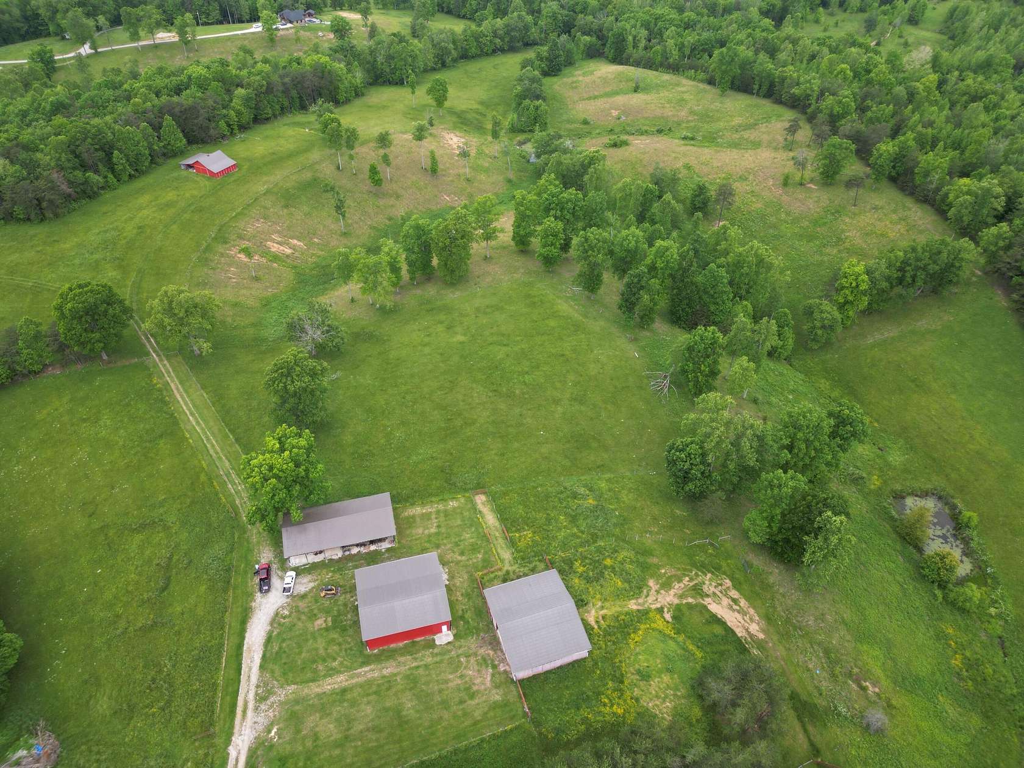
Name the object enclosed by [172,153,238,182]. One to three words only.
barn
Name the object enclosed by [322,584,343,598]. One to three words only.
work vehicle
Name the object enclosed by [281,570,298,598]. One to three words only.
vehicle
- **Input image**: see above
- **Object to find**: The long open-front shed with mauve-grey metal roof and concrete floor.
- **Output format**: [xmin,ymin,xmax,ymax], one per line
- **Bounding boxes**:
[281,490,396,567]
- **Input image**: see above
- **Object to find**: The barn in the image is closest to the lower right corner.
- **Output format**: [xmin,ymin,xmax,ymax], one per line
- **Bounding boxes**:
[482,568,593,680]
